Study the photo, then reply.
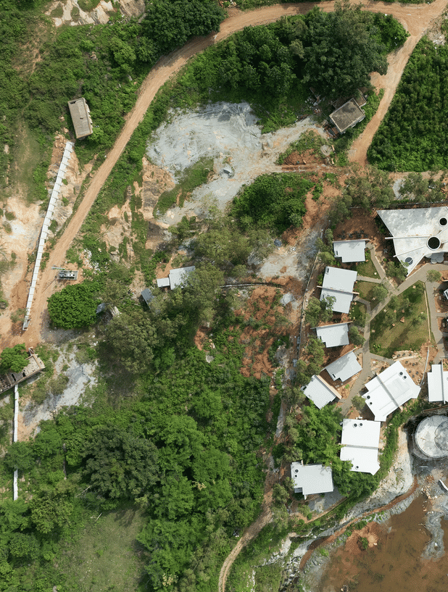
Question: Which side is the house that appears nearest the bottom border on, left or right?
right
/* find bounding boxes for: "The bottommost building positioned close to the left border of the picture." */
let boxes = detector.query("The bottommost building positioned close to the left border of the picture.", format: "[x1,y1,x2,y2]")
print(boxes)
[0,346,51,393]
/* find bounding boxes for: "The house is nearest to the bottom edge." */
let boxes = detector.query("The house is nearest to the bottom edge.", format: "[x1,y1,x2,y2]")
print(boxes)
[291,457,334,499]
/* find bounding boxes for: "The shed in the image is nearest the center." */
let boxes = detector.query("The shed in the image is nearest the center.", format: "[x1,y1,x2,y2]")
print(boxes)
[157,266,196,290]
